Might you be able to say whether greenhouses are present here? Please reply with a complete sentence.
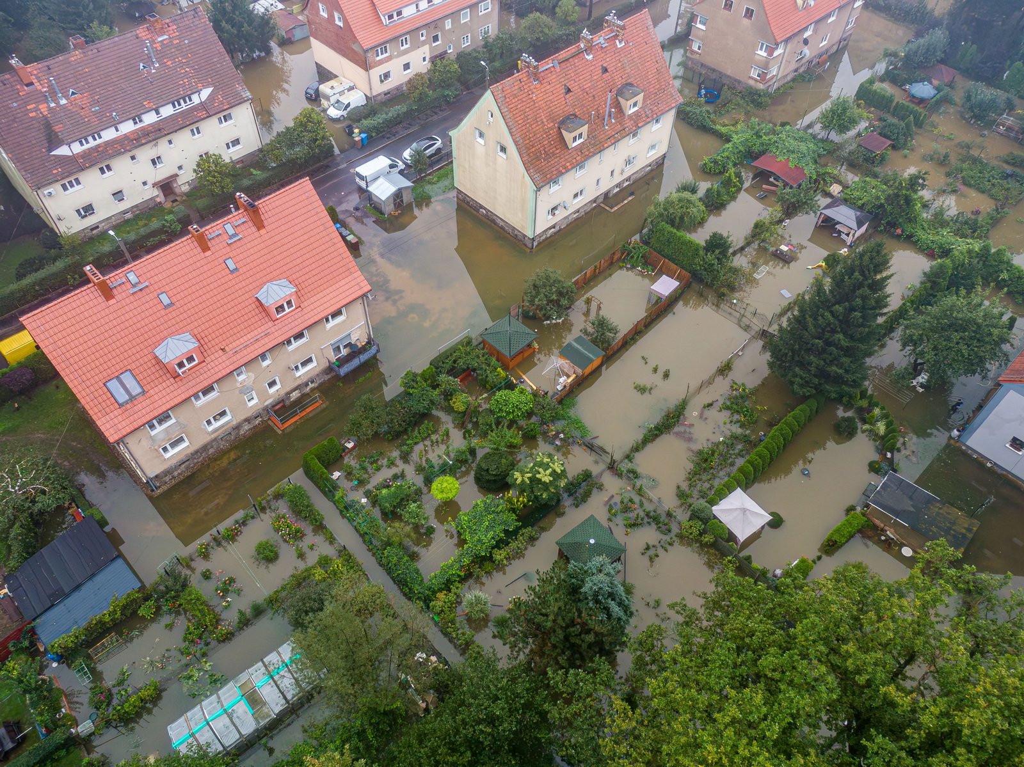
Yes, a greenhouse appears in the view.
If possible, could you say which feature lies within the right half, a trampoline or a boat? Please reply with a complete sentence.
There is a trampoline within the right half.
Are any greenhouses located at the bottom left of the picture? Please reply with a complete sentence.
Yes, at the bottom left of the picture there is a greenhouse.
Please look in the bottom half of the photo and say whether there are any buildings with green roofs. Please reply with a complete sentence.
Yes, a building with a green roof can be seen in the bottom half of the photo.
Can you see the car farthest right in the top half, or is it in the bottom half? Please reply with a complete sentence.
It is in the top half that the car farthest right appears.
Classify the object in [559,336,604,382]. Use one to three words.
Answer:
shed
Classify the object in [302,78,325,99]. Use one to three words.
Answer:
car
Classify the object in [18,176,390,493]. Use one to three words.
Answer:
house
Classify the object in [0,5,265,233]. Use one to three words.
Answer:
house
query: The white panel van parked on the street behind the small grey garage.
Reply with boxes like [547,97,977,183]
[354,155,404,188]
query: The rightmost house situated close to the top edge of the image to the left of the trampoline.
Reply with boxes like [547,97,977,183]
[449,9,682,249]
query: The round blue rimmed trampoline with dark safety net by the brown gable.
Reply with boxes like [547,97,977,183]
[698,74,722,104]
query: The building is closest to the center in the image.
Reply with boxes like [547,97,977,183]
[480,313,538,372]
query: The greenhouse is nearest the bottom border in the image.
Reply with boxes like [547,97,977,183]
[166,637,322,763]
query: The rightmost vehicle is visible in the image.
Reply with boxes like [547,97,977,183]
[402,134,446,160]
